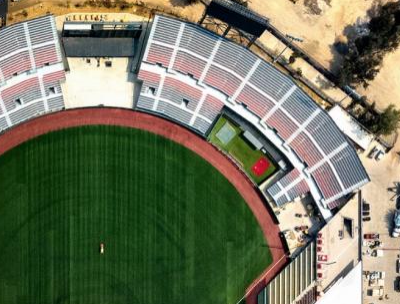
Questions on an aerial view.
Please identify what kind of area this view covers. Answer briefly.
sports ground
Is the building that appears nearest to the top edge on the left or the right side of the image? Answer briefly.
left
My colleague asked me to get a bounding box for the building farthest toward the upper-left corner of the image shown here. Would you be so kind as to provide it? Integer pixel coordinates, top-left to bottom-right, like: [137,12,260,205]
[61,22,143,62]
